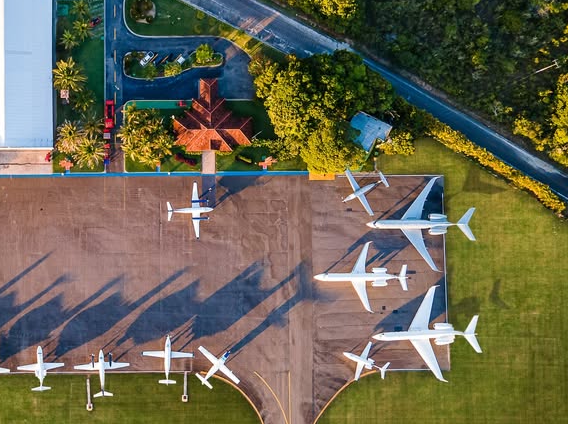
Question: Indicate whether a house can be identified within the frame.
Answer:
Yes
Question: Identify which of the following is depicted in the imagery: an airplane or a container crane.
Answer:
airplane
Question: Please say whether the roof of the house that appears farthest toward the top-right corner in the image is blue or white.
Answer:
blue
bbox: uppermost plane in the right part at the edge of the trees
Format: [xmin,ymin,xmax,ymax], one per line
[340,169,390,216]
